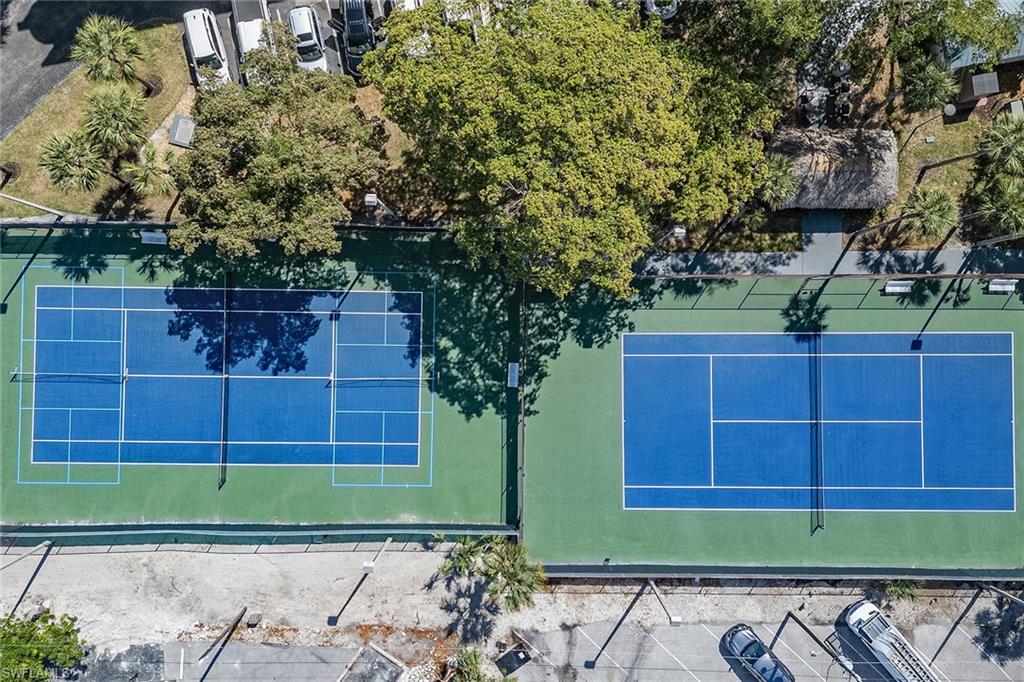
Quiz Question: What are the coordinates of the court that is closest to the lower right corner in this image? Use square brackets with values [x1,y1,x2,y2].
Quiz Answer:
[524,279,1024,566]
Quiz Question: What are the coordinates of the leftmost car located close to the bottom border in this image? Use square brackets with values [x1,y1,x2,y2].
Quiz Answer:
[723,622,789,682]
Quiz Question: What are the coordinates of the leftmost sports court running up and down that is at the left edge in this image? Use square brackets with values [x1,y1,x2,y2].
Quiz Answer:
[17,265,124,485]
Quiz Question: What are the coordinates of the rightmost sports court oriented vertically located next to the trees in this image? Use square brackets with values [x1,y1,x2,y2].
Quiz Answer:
[333,270,436,487]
